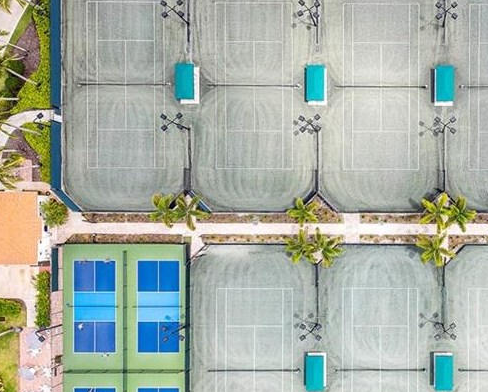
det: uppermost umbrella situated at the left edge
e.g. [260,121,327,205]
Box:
[21,333,38,347]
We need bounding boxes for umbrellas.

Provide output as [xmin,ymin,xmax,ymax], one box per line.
[15,367,33,384]
[21,333,38,347]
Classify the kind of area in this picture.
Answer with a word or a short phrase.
sports ground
